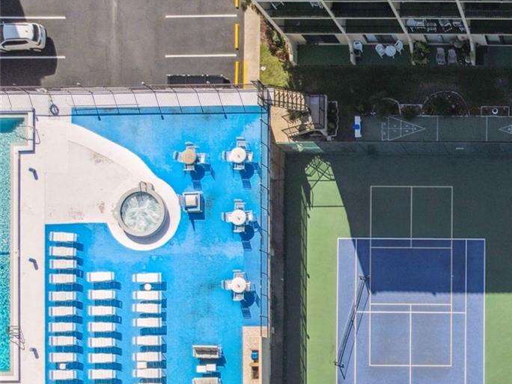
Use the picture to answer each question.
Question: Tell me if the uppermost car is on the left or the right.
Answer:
left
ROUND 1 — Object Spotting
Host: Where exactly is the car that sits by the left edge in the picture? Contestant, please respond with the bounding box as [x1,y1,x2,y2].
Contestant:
[0,19,47,53]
